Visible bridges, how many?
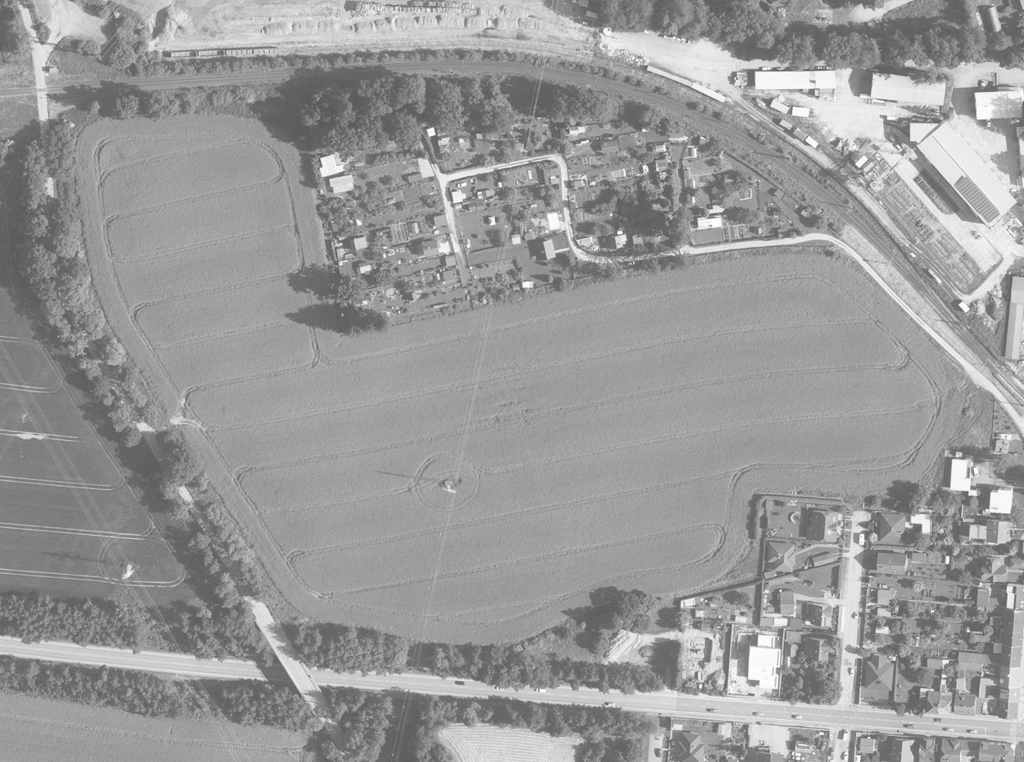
one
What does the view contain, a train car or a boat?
train car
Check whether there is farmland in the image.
Yes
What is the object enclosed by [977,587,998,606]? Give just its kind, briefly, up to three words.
shed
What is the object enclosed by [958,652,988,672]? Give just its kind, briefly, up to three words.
house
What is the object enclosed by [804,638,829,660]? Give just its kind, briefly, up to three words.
house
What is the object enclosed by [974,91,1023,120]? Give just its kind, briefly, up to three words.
building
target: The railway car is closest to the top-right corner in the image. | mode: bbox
[692,81,727,103]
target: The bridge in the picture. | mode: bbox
[251,599,324,711]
